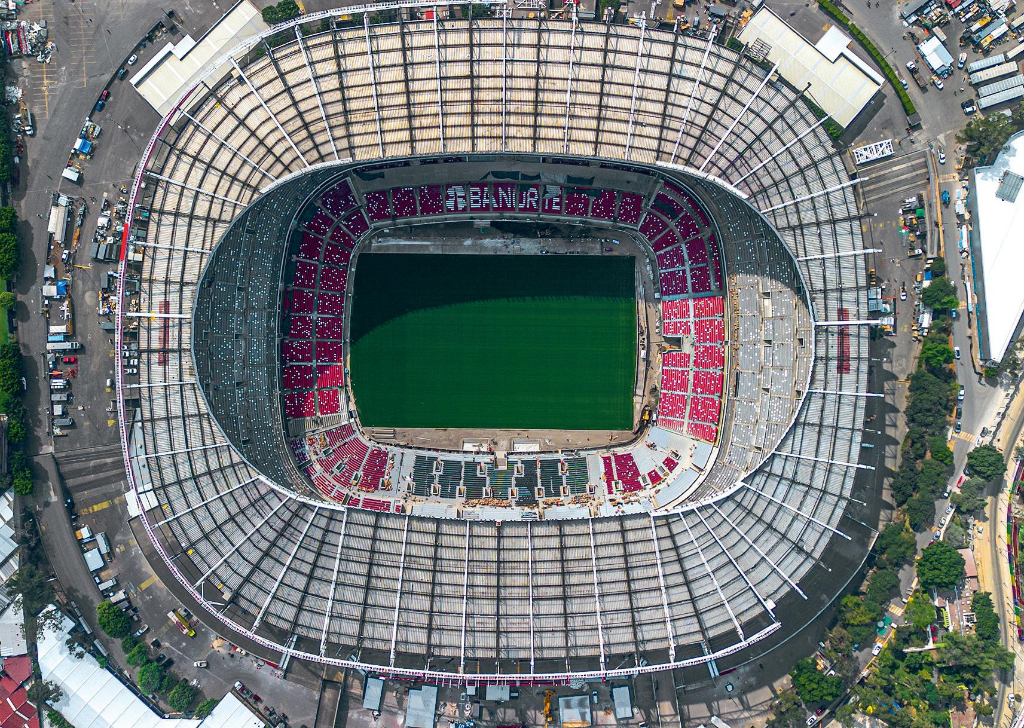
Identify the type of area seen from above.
sports ground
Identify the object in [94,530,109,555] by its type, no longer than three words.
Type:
vehicle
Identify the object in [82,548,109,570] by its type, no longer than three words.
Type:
shed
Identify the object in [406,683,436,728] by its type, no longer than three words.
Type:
shed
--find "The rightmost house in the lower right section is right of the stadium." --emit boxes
[955,545,979,578]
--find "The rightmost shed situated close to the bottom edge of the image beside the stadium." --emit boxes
[612,682,633,719]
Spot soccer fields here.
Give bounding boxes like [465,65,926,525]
[349,253,636,430]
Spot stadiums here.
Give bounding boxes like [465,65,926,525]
[113,0,894,682]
